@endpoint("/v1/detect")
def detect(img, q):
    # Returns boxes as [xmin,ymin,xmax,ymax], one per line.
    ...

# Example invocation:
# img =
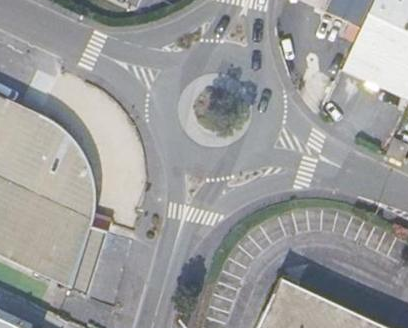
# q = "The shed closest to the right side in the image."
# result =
[386,136,408,168]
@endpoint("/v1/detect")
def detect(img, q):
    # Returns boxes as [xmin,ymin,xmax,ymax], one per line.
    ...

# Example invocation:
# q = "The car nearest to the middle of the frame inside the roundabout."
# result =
[258,90,270,110]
